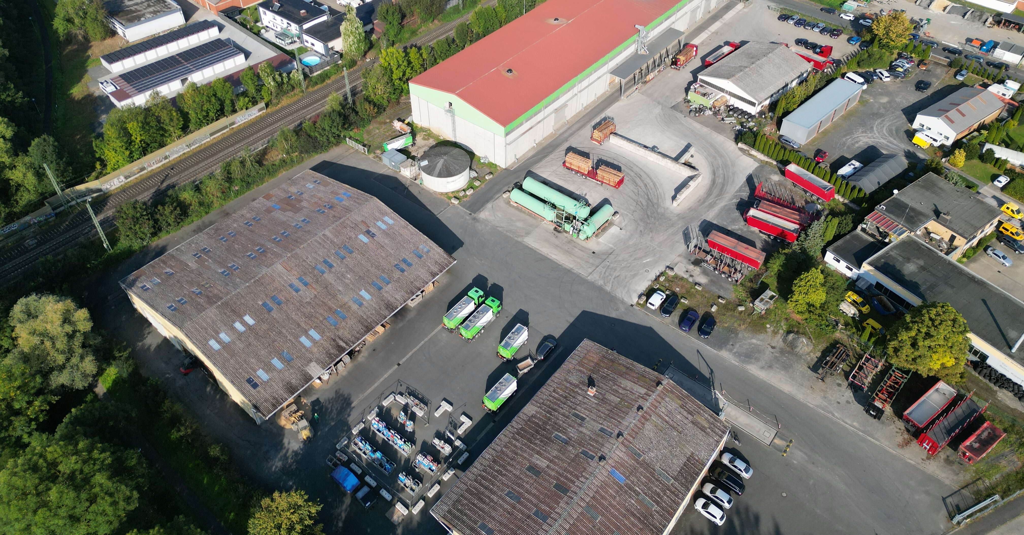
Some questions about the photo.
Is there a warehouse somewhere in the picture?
Yes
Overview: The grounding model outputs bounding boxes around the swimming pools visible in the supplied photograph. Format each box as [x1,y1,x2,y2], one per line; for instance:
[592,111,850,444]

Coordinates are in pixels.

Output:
[298,51,330,70]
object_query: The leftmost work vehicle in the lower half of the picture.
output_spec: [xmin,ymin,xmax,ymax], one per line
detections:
[180,355,199,376]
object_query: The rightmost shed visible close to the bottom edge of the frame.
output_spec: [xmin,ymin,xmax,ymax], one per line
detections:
[423,338,734,535]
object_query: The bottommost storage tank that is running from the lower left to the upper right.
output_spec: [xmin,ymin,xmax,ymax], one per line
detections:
[583,206,617,238]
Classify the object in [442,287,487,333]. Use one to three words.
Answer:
truck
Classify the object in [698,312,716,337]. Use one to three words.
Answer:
car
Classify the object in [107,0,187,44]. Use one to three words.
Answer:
building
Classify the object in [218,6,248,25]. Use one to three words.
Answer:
shed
